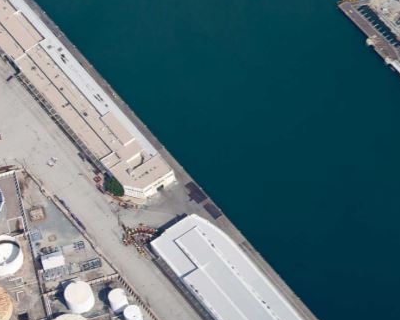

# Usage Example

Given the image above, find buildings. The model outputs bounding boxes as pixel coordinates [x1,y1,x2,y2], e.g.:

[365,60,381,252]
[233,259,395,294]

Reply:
[41,252,67,273]
[0,0,175,200]
[148,215,302,320]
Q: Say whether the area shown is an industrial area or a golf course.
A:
industrial area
